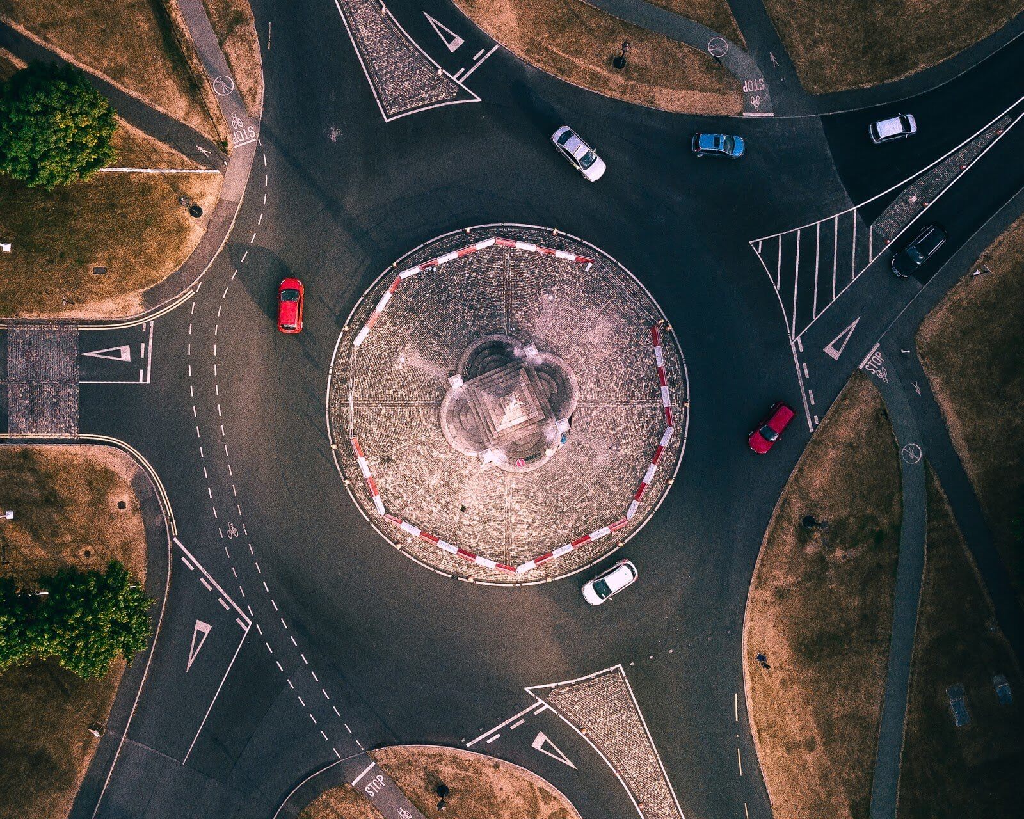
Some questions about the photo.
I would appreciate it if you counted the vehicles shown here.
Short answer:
7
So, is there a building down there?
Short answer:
No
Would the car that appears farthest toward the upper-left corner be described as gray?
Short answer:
No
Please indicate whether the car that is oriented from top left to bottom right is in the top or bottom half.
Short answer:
top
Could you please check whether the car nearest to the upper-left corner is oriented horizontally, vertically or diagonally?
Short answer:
vertically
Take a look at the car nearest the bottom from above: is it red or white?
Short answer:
white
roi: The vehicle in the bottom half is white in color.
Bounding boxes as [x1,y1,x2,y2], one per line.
[583,560,638,602]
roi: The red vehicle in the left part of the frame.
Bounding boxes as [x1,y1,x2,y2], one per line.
[276,278,305,334]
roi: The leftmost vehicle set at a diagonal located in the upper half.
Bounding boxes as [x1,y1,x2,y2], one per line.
[553,126,603,181]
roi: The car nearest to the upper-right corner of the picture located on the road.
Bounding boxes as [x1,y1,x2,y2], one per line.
[868,113,915,144]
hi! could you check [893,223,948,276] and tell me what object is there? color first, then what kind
black car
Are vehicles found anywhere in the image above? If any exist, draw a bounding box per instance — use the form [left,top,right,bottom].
[276,278,305,334]
[553,126,603,181]
[750,401,795,454]
[583,560,638,602]
[868,113,915,144]
[893,223,948,276]
[692,131,745,160]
